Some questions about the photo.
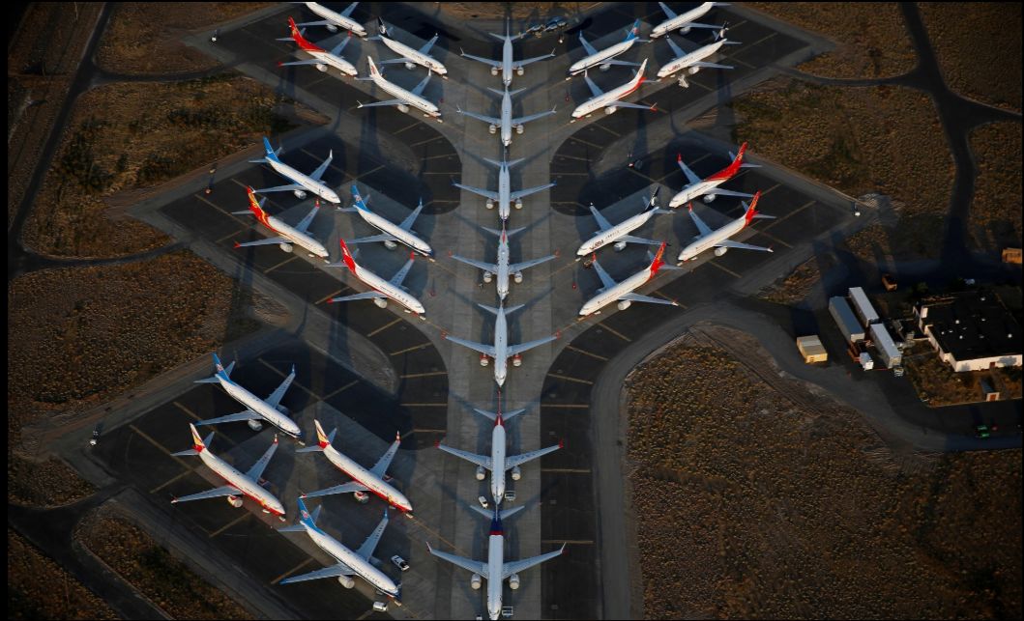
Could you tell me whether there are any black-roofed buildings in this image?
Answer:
Yes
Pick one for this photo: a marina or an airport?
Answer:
airport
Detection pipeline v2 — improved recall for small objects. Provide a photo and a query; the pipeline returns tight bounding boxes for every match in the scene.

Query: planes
[338,186,436,256]
[442,292,560,388]
[462,25,554,87]
[172,424,285,516]
[250,138,341,204]
[578,188,675,259]
[566,20,650,76]
[452,149,557,224]
[669,142,760,209]
[278,498,400,599]
[458,73,555,147]
[195,353,302,439]
[657,22,740,79]
[297,421,413,513]
[292,0,369,38]
[325,240,425,315]
[678,191,775,262]
[427,491,566,619]
[233,188,328,258]
[580,242,681,318]
[573,59,659,119]
[650,0,730,38]
[367,18,450,75]
[434,397,563,505]
[447,209,559,302]
[278,18,357,76]
[355,56,439,117]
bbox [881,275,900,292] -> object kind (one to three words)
vehicle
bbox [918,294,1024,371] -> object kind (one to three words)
building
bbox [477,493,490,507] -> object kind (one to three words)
vehicle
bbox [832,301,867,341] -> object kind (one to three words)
trailer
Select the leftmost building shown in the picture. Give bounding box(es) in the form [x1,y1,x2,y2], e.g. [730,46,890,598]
[799,338,830,363]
